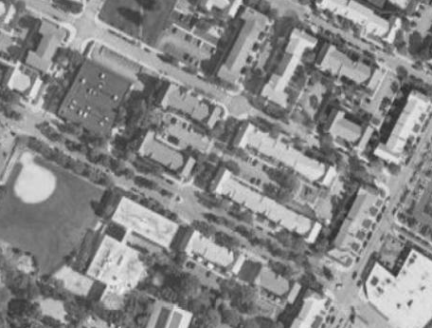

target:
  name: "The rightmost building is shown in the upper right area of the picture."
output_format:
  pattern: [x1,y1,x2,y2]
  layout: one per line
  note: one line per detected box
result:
[415,7,432,34]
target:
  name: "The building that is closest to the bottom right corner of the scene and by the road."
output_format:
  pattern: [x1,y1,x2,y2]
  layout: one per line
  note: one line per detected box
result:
[366,249,432,328]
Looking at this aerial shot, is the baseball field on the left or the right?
left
